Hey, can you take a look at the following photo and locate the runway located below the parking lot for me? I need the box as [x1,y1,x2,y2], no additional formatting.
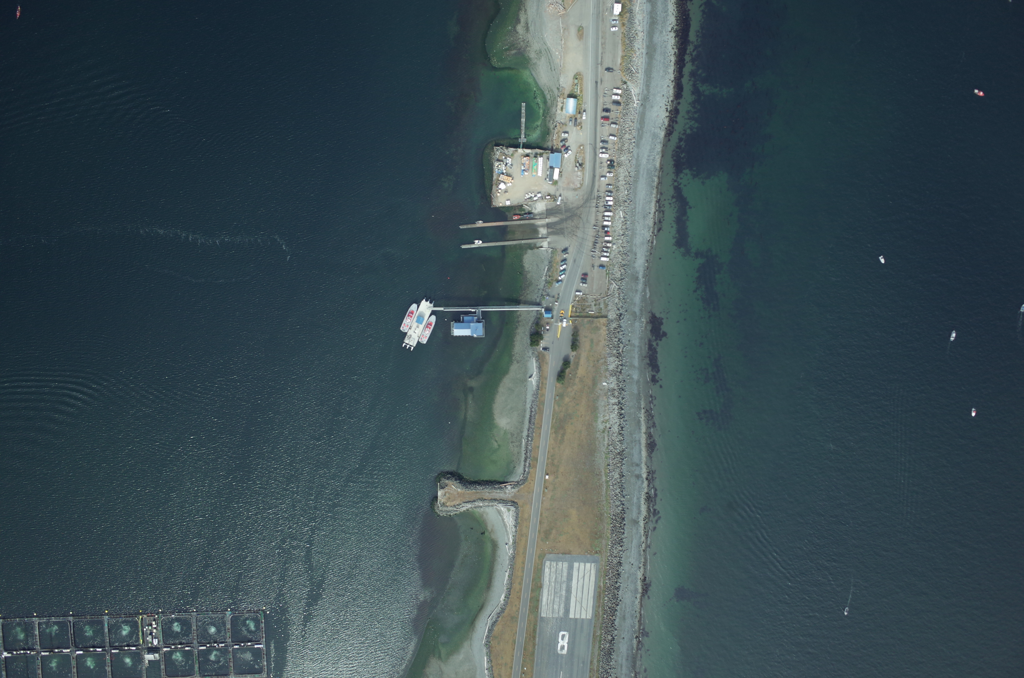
[534,554,600,678]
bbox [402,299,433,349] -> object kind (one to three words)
ship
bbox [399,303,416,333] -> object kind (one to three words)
boat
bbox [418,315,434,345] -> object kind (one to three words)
boat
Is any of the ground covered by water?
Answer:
Yes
